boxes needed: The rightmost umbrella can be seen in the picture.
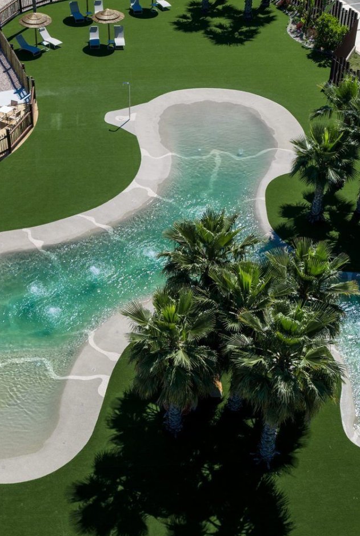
[92,10,125,45]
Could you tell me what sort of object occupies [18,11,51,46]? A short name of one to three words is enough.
umbrella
